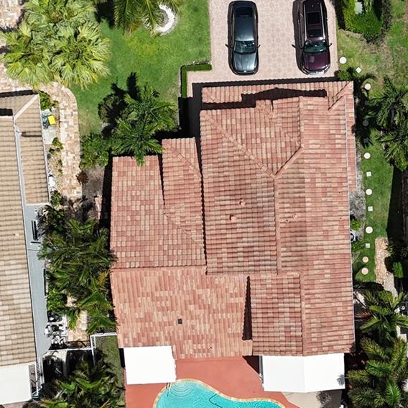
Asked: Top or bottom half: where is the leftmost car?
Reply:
top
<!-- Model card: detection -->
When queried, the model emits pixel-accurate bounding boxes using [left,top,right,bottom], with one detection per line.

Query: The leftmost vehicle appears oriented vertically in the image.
[228,0,262,72]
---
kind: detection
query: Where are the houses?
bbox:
[0,93,52,368]
[110,79,357,360]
